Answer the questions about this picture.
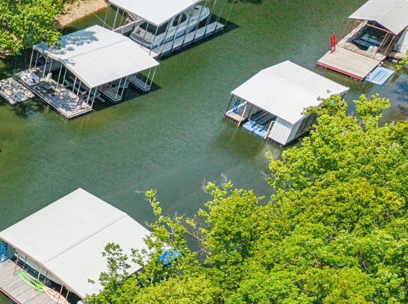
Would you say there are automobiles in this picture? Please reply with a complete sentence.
No, this view has no automobile in it.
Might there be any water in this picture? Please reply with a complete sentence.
Yes, some water is visible.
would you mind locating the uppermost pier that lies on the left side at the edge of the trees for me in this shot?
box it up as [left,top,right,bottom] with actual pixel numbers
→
[67,0,226,61]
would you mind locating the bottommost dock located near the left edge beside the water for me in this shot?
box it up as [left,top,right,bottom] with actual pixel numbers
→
[0,188,163,304]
